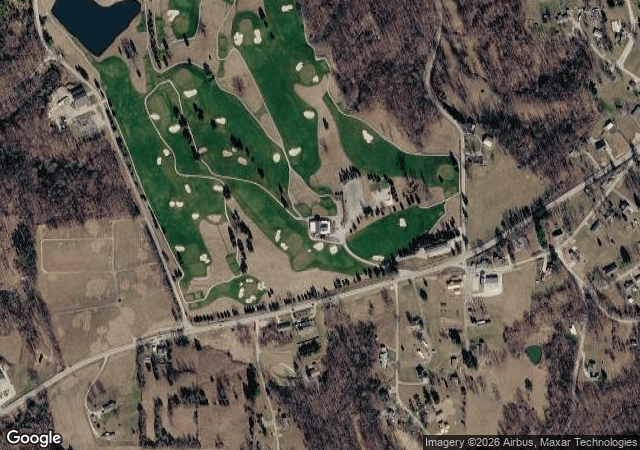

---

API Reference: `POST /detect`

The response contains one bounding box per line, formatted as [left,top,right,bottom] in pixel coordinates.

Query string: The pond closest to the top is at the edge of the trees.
[51,0,141,55]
